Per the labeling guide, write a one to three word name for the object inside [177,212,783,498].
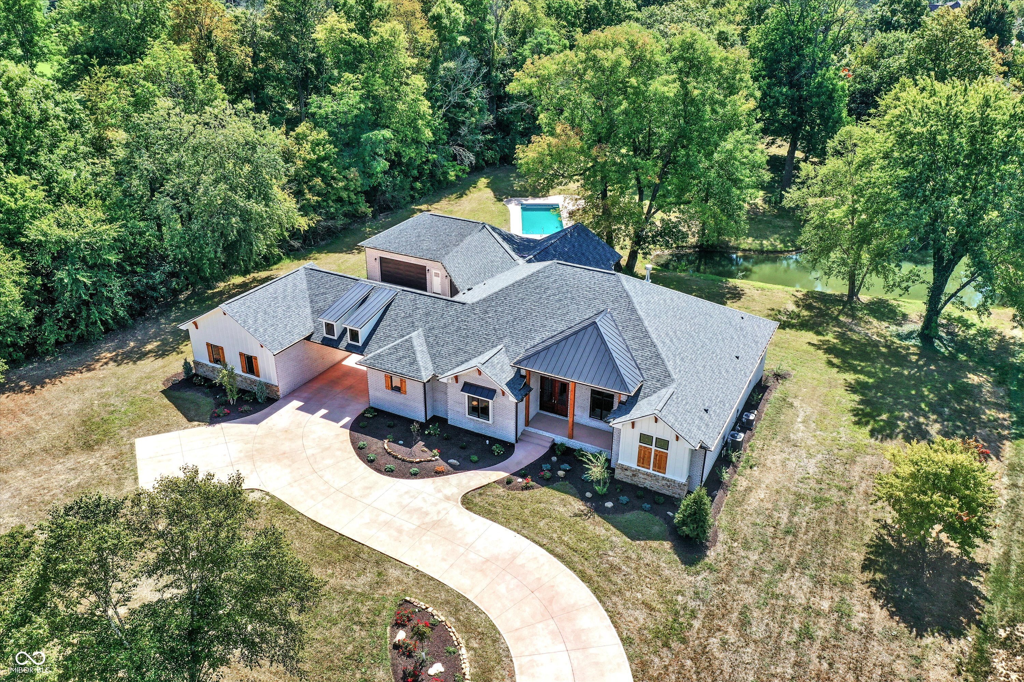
house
